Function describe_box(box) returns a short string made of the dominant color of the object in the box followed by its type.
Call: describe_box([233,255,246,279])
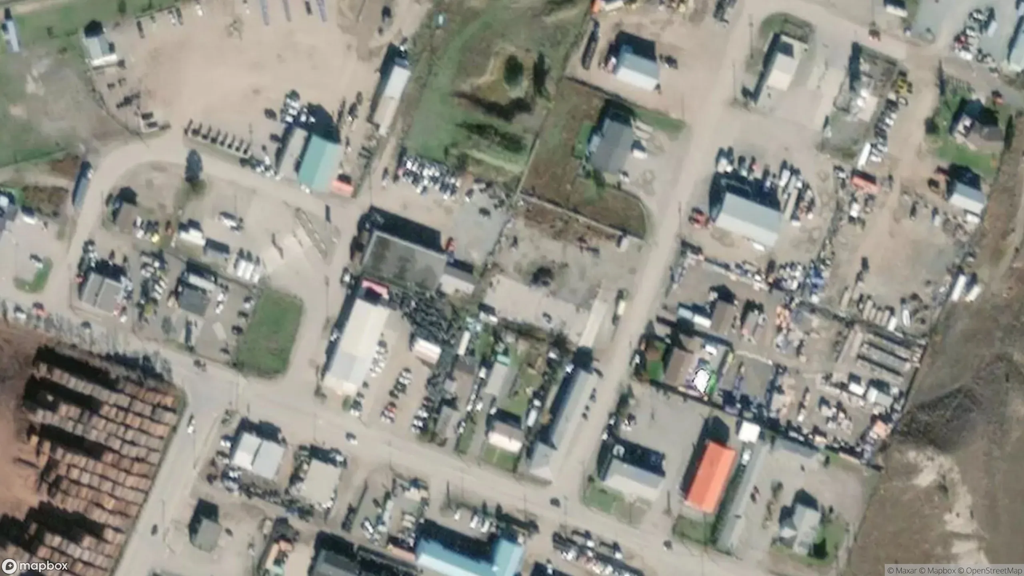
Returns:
white vehicle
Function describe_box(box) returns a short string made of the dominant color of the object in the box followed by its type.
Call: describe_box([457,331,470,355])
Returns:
white vehicle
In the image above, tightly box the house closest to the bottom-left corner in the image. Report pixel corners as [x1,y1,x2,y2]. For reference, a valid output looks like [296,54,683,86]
[189,516,222,552]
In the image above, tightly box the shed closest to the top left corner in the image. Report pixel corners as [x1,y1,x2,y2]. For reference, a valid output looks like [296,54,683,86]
[4,20,22,52]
